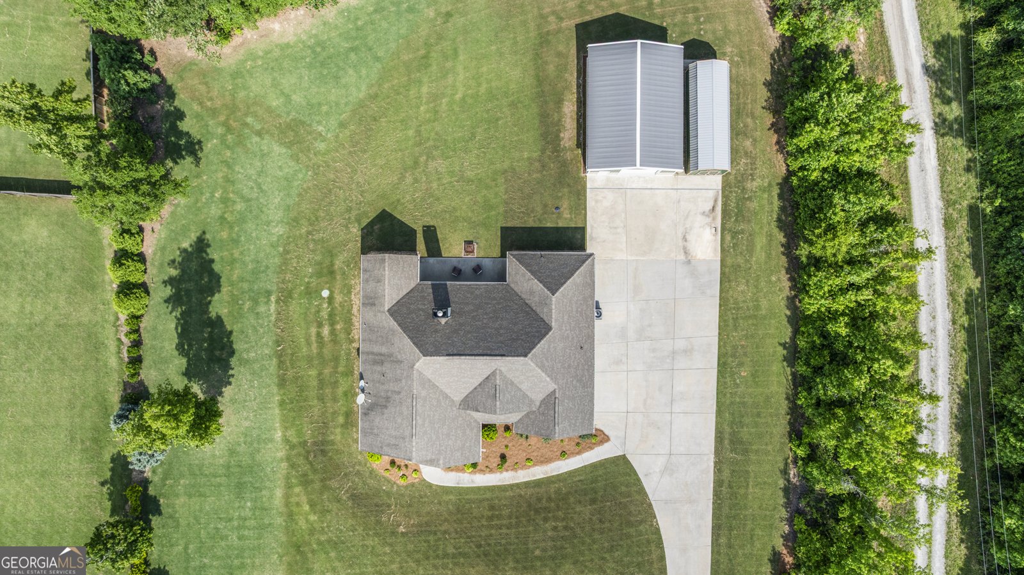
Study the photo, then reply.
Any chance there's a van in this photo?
No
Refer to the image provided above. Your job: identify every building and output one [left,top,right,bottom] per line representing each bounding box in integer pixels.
[685,59,730,174]
[585,38,684,174]
[360,251,595,466]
